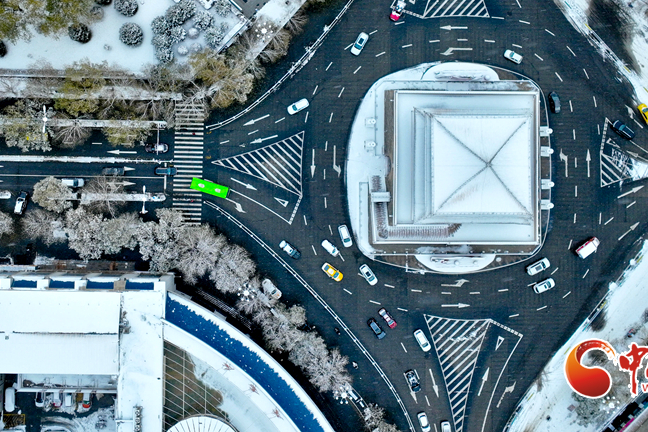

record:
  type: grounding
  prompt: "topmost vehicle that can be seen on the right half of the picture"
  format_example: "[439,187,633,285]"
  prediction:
[391,0,404,21]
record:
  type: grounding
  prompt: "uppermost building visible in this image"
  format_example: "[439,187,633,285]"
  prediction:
[368,81,547,255]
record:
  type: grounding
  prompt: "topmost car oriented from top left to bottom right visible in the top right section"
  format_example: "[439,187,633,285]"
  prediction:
[502,48,523,65]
